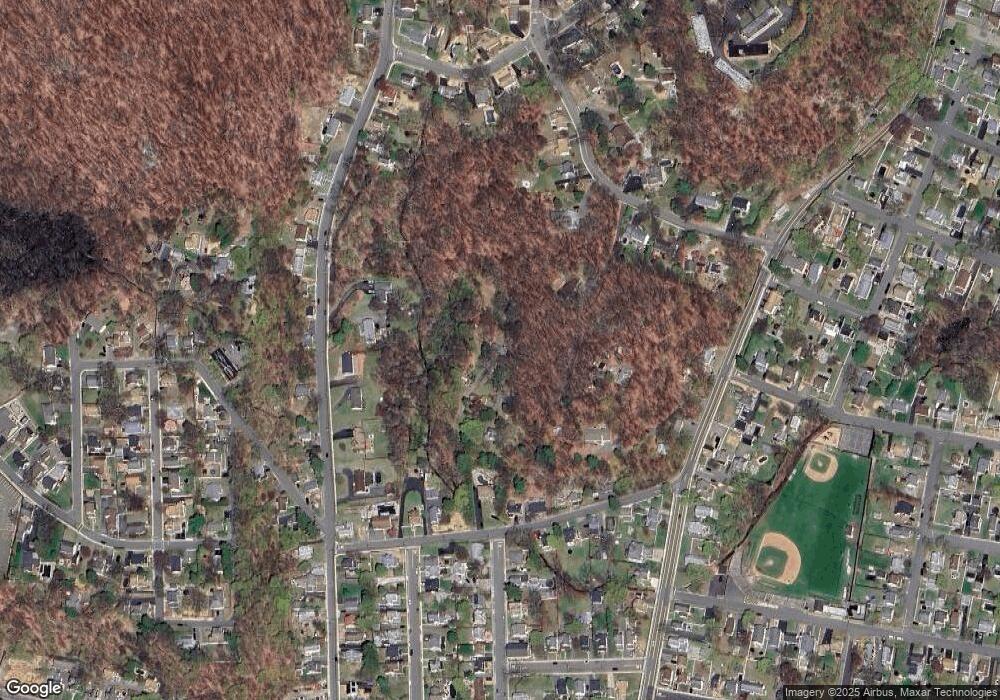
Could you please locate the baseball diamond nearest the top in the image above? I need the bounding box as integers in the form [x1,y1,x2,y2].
[804,447,841,481]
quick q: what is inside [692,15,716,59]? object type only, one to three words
building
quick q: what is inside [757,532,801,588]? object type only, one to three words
baseball field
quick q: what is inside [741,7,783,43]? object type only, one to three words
building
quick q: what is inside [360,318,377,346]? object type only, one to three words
house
